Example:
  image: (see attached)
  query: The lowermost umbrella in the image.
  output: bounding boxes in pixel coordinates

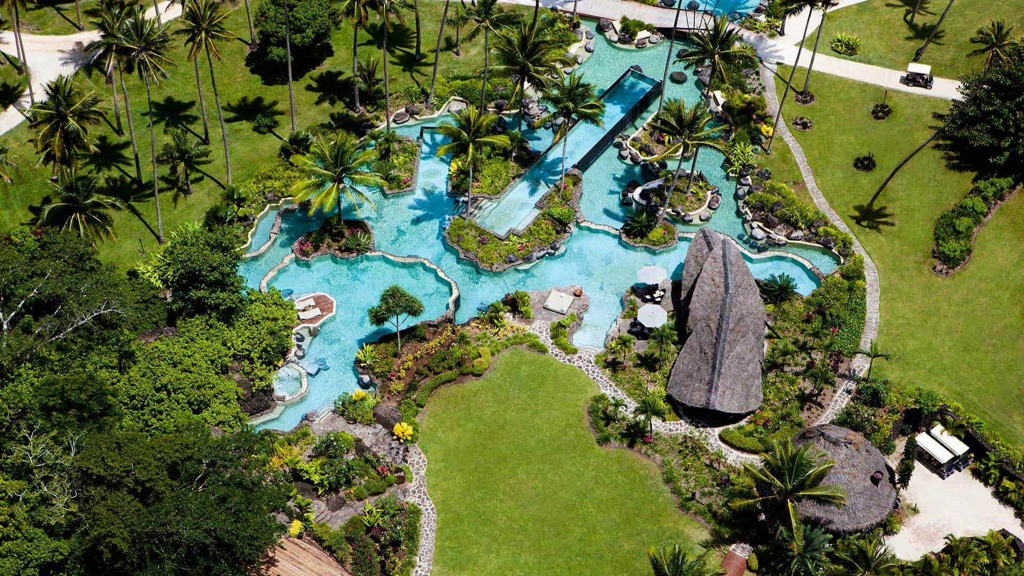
[635,302,668,334]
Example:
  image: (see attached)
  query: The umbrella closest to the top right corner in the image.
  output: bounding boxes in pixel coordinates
[636,262,668,293]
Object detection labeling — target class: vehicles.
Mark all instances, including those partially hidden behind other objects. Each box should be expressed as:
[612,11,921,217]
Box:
[907,64,934,88]
[930,424,967,468]
[912,432,952,476]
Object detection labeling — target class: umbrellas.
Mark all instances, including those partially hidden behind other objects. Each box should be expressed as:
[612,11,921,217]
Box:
[635,302,668,334]
[636,262,668,293]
